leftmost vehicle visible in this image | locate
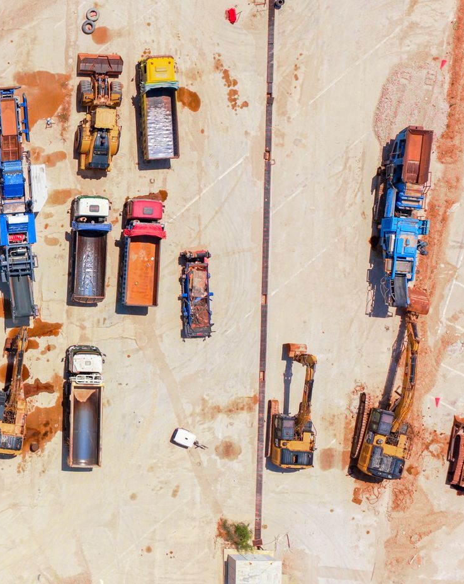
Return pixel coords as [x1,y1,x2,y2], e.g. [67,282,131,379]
[0,322,33,454]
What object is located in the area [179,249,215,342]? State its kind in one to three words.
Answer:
truck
